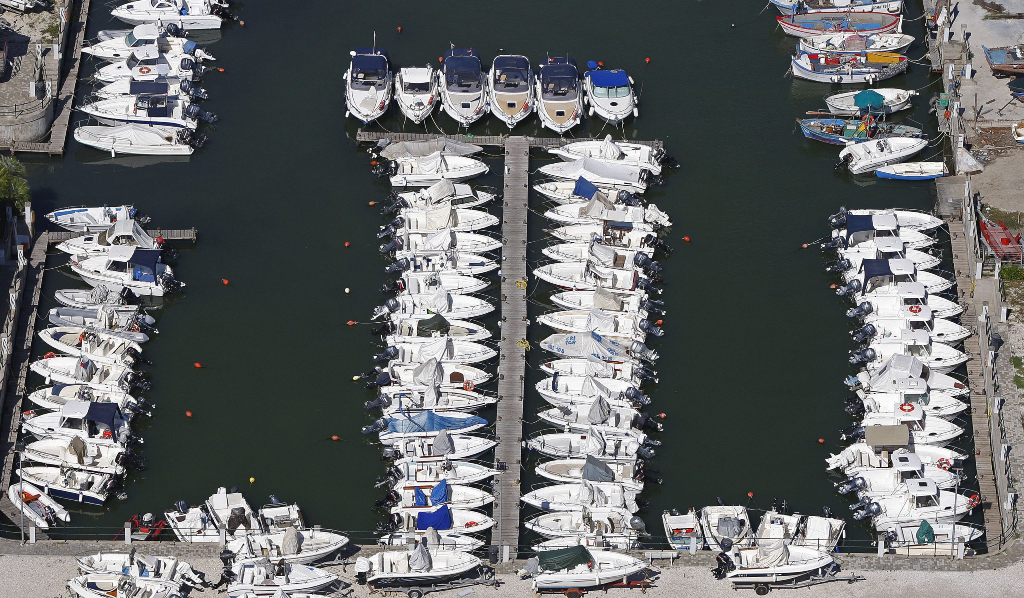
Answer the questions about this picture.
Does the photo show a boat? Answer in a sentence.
Yes, a boat can be made out from above.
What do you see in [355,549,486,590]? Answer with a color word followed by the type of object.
white boat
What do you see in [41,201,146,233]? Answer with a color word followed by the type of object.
white boat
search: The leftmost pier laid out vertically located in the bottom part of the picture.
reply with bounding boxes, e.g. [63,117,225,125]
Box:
[0,232,49,491]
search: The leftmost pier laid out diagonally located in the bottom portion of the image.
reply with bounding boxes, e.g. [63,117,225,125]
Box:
[0,491,50,539]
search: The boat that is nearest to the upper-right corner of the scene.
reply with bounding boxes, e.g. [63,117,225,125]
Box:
[981,40,1024,73]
